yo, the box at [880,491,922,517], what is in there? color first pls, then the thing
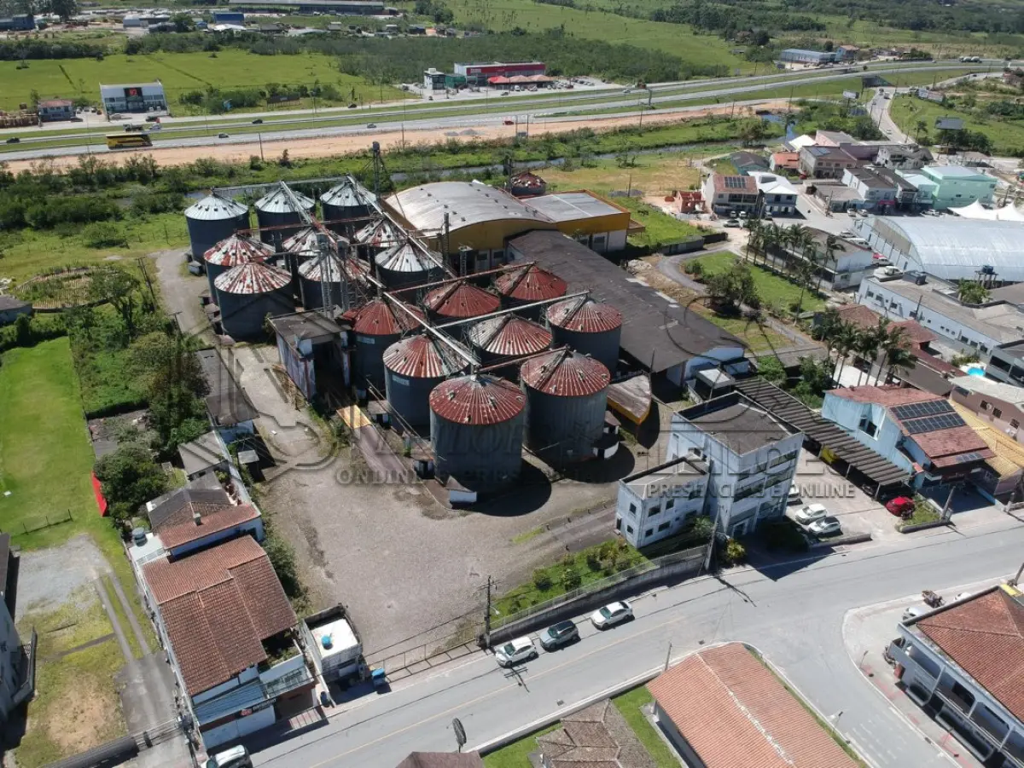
red car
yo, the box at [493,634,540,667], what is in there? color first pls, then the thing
white car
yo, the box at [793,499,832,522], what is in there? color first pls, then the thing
white car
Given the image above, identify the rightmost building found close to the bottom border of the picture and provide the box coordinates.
[875,575,1024,768]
